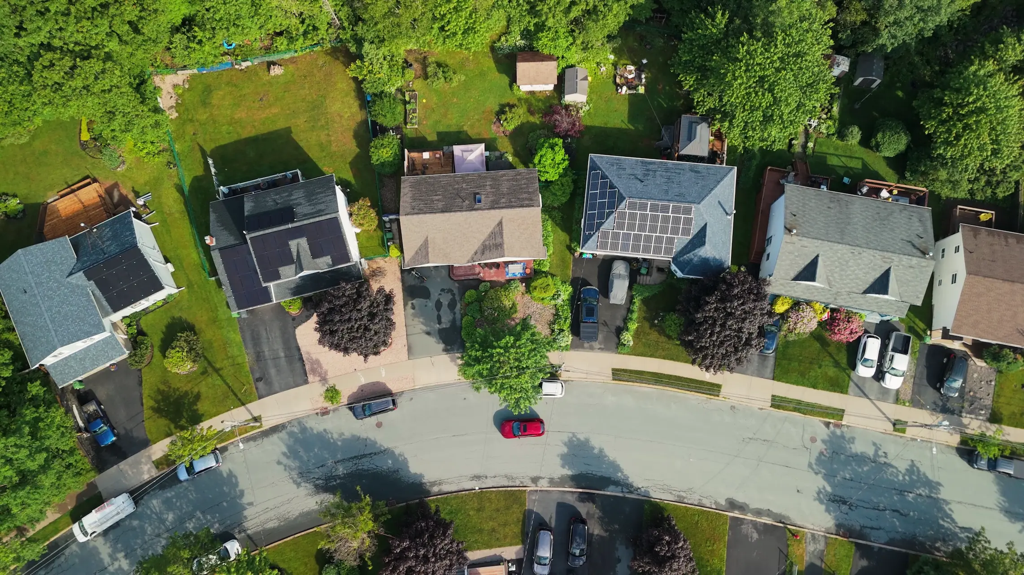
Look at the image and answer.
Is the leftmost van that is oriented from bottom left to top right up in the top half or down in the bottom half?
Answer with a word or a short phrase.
bottom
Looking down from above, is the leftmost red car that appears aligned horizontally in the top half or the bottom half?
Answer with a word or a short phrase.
bottom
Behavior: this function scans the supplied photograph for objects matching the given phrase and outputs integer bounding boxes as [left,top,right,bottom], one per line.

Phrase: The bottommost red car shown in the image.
[501,418,545,440]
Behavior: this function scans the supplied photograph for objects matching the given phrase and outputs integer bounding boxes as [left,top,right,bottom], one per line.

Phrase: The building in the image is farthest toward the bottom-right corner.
[932,224,1024,352]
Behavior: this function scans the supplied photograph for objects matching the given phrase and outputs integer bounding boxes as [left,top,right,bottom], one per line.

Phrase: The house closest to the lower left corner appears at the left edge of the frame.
[0,210,185,386]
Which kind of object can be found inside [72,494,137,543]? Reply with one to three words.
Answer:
van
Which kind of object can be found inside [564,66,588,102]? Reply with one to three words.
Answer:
shed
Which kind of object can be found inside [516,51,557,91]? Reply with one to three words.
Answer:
shed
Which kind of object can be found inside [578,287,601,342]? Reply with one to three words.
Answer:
truck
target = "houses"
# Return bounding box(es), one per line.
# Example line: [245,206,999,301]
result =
[202,173,368,313]
[932,224,1024,352]
[579,154,737,282]
[399,167,547,272]
[759,183,936,321]
[0,210,185,386]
